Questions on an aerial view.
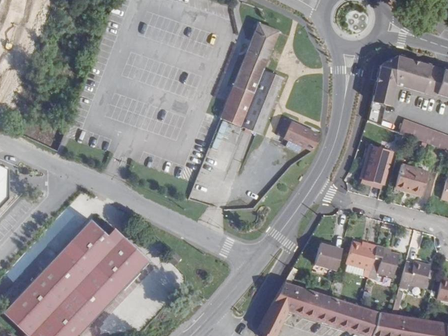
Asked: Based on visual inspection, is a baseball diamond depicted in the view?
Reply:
No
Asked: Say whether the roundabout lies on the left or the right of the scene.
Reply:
right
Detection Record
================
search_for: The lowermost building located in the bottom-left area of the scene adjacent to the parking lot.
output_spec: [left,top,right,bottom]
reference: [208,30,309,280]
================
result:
[4,220,150,336]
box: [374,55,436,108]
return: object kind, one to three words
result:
building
